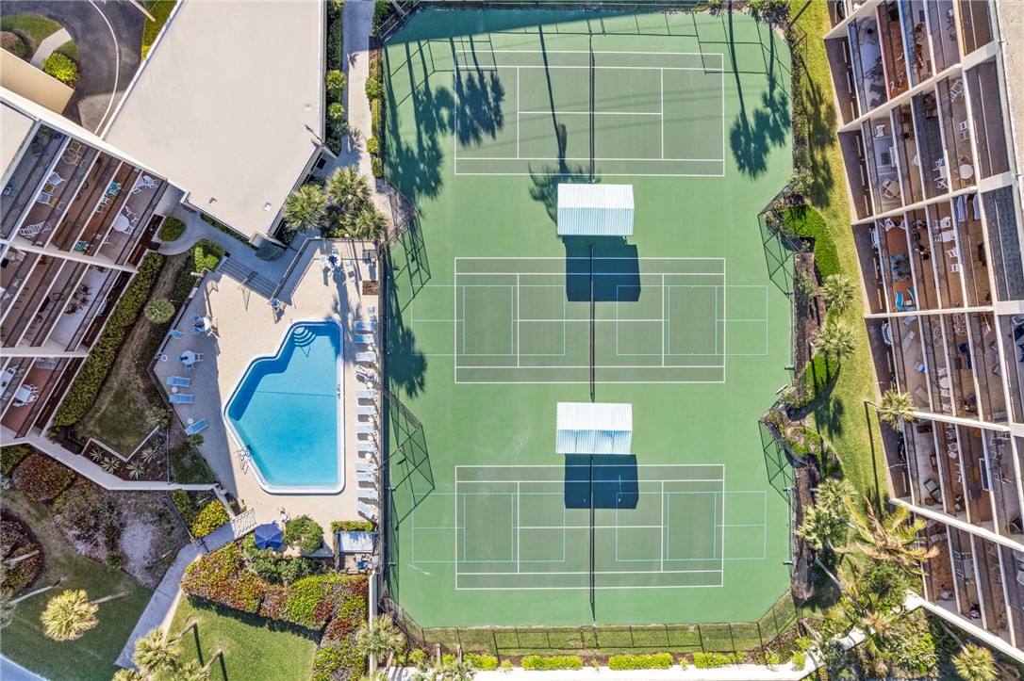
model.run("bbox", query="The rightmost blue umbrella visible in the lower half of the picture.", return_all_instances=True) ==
[244,521,275,552]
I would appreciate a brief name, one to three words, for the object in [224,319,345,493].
swimming pool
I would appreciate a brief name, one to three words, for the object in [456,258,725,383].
tennis court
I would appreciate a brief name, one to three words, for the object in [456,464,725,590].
tennis court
